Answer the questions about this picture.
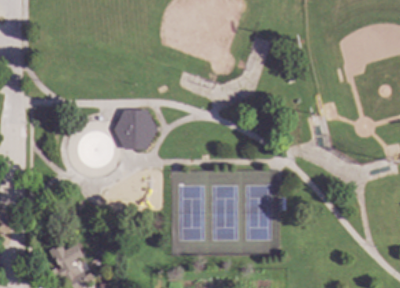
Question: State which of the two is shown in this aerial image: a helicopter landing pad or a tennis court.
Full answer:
The one in the frame is a tennis court.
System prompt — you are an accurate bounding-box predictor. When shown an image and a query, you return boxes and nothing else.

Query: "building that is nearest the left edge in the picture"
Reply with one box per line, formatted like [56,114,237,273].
[45,243,89,281]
